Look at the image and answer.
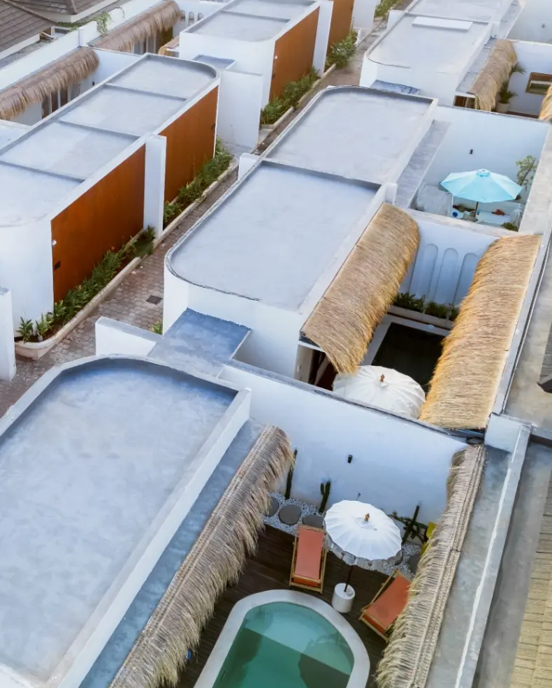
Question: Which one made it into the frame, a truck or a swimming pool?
swimming pool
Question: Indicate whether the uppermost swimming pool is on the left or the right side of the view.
right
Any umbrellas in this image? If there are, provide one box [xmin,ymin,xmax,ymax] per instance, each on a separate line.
[313,509,400,614]
[333,362,423,417]
[441,167,521,226]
